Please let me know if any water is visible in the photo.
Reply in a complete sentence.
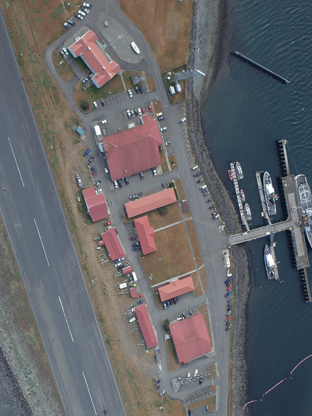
Yes, water shows up in the scene.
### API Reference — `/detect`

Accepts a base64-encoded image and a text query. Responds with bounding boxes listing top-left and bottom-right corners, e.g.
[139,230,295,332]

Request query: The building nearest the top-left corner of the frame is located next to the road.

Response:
[69,30,121,88]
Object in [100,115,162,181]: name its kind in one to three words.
hangar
